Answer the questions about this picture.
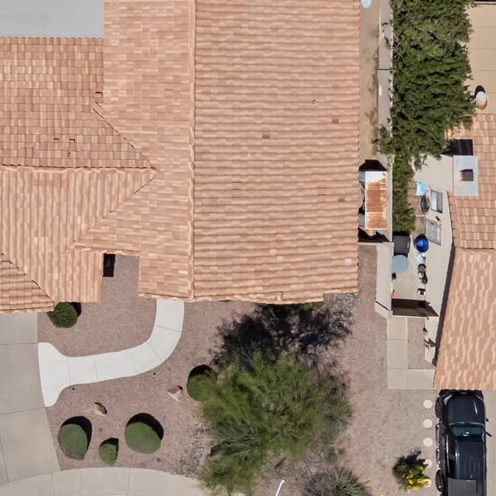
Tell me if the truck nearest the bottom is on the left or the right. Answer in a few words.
right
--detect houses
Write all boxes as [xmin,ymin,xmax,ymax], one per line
[420,1,496,392]
[0,0,362,311]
